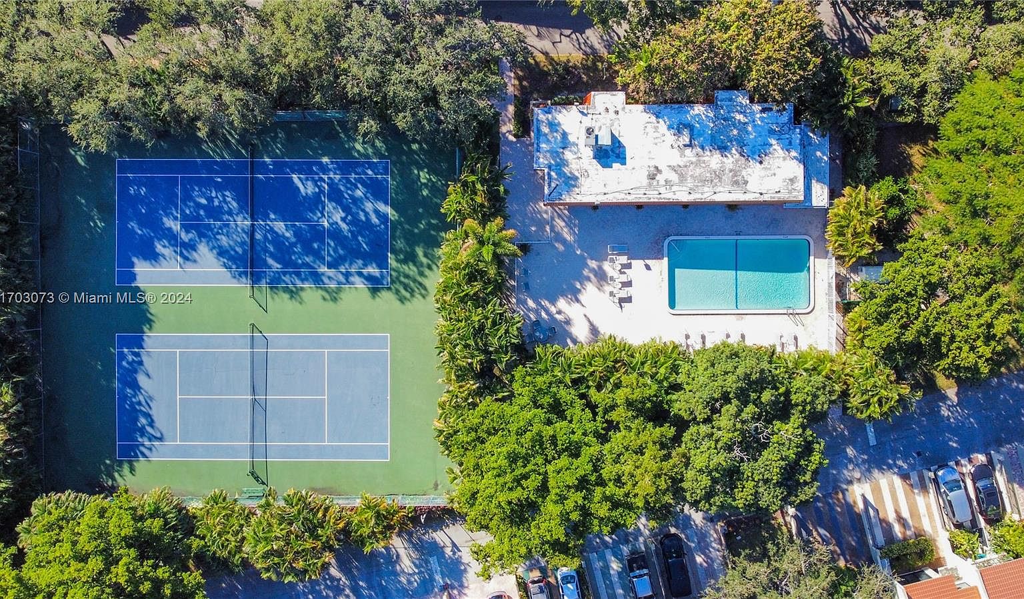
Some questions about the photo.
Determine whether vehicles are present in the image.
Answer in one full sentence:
Yes, this view includes a vehicle.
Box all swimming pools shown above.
[664,235,815,315]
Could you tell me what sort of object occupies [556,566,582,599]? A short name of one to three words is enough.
car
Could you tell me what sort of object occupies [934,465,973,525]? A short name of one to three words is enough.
car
